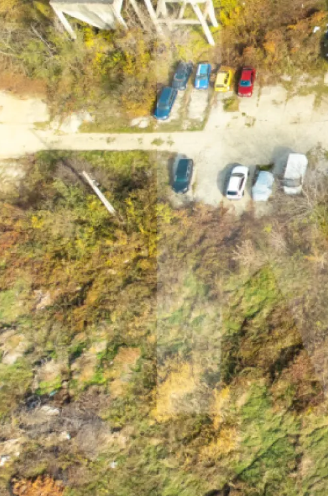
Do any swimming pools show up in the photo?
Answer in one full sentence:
No, the frame has no swimming pool in it.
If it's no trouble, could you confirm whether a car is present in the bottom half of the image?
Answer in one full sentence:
No, the scene shows no car in the bottom half of the image.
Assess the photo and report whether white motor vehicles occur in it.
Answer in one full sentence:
Yes, the photo shows a white motor vehicle.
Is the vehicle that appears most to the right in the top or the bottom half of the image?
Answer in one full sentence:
The top half of the photo is where the vehicle that appears most to the right is.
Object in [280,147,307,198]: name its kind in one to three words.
vehicle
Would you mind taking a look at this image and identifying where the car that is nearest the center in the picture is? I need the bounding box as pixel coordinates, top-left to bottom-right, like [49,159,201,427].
[170,156,193,194]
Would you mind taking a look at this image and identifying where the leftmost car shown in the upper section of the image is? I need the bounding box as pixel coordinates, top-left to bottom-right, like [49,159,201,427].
[153,85,180,121]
